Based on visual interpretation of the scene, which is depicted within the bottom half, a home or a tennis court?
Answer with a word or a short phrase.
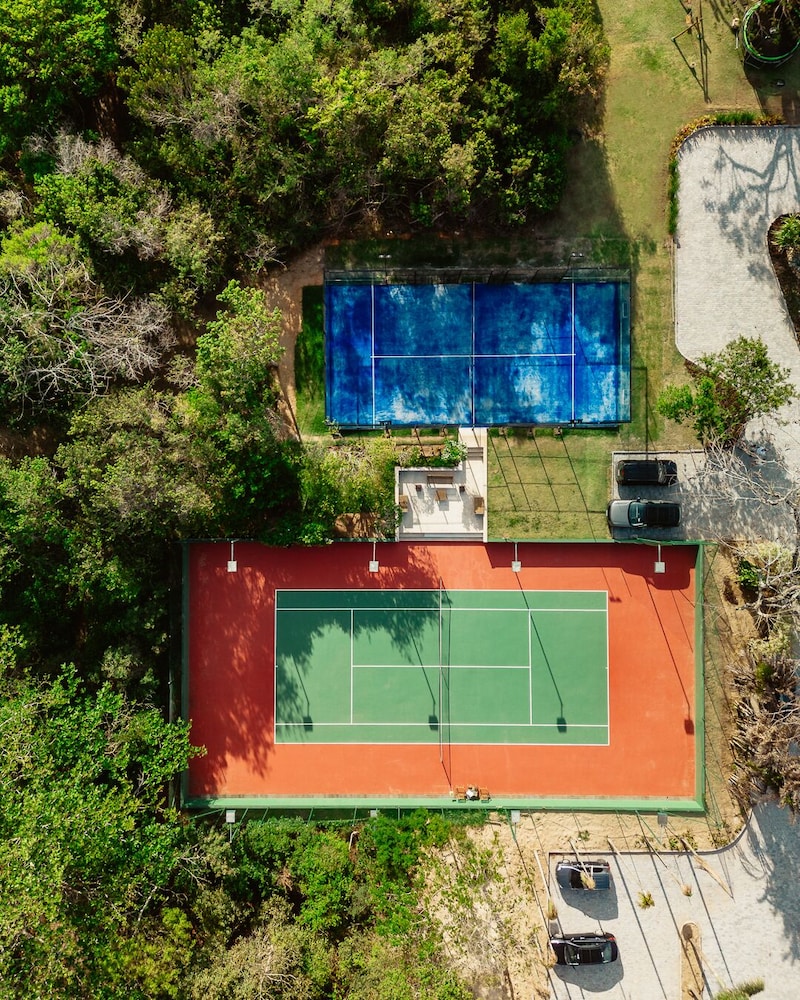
tennis court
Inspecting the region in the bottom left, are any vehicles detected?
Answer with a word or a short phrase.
No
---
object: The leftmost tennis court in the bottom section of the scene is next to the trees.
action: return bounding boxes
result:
[189,541,695,797]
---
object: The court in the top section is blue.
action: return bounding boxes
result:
[322,268,632,438]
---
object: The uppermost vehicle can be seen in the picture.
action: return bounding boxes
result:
[613,457,678,489]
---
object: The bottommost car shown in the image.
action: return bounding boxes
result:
[550,930,619,970]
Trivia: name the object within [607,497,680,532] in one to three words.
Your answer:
car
